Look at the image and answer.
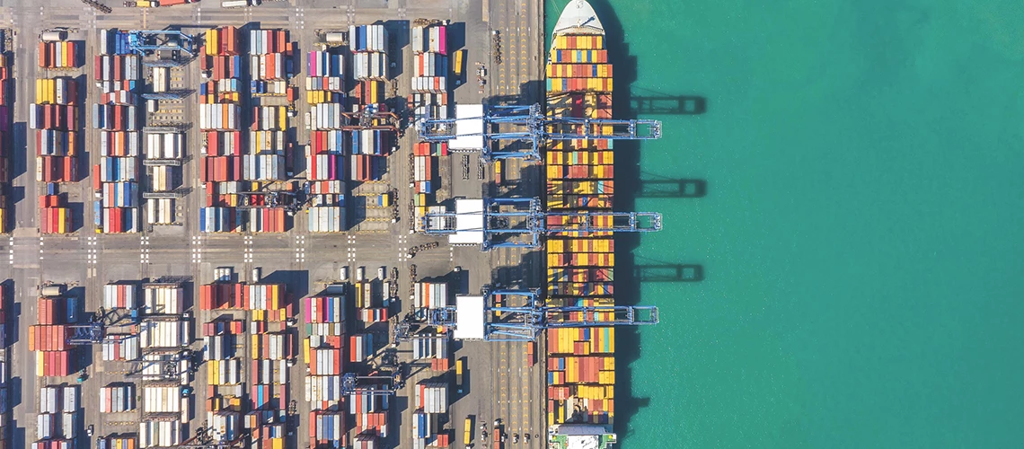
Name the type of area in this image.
port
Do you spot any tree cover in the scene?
No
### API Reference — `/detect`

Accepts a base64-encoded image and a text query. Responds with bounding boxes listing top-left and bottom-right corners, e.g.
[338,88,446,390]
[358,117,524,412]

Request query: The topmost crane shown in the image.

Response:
[125,29,192,58]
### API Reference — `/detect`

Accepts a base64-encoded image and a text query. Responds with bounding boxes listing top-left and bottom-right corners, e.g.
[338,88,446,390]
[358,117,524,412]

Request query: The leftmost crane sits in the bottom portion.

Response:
[66,319,140,347]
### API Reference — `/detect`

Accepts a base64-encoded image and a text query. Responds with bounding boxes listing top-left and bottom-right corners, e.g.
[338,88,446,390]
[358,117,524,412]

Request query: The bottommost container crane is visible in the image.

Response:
[173,424,243,449]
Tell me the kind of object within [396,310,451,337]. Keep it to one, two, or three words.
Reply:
container crane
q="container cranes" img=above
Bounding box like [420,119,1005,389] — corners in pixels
[340,369,400,397]
[419,100,661,167]
[66,319,140,347]
[396,310,451,337]
[419,193,661,253]
[173,424,243,449]
[123,353,190,381]
[341,109,399,136]
[419,277,661,340]
[236,188,298,212]
[125,29,192,58]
